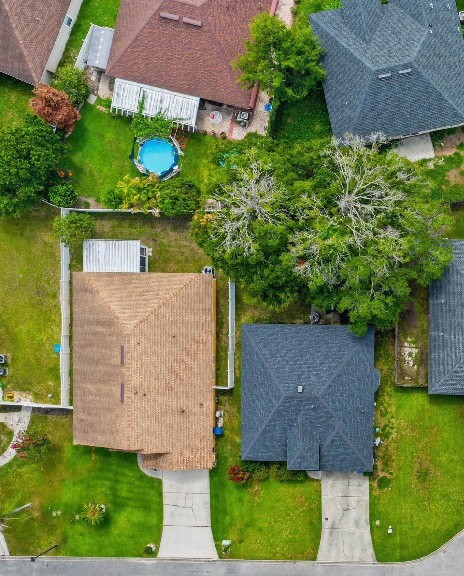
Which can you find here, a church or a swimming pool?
swimming pool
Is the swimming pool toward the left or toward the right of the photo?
left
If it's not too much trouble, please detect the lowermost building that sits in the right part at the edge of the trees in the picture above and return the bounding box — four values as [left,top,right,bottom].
[241,324,379,472]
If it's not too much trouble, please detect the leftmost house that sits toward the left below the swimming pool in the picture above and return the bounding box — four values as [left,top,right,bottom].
[72,270,218,470]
